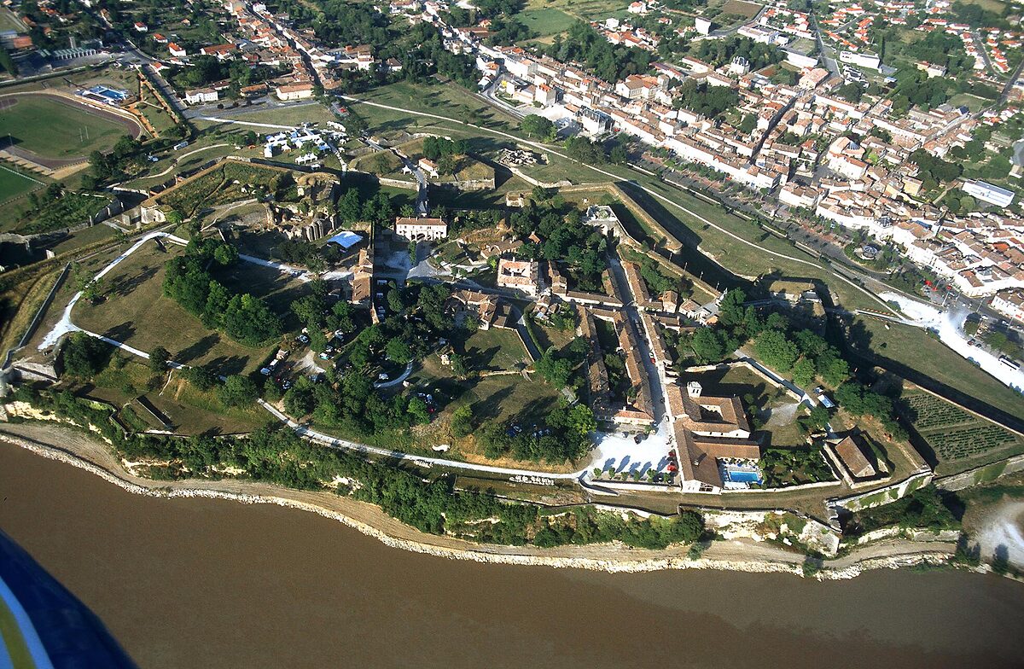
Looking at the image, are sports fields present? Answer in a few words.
Yes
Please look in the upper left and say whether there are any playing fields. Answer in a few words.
Yes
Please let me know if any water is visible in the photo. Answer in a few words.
Yes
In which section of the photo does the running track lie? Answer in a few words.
top left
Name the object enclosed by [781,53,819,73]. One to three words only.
building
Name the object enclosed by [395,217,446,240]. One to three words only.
building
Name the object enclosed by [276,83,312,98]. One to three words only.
house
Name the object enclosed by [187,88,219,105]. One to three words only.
house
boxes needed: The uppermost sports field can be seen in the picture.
[0,98,128,157]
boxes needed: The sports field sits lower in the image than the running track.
[0,165,44,205]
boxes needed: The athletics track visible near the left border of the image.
[0,92,139,168]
